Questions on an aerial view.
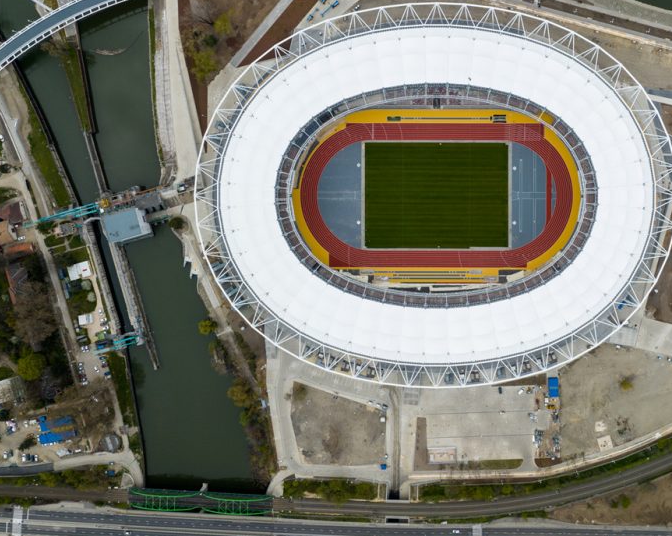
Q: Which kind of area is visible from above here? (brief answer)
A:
sports ground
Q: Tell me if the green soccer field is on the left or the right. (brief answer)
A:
right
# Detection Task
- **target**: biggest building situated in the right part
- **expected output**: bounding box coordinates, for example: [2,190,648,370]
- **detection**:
[428,445,457,464]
